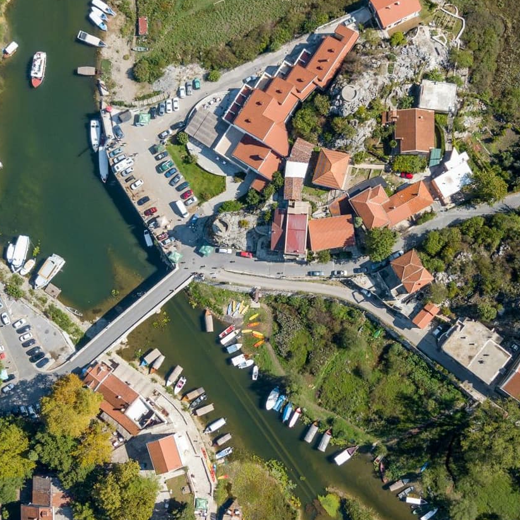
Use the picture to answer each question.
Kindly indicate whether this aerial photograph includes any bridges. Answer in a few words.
Yes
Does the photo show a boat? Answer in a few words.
Yes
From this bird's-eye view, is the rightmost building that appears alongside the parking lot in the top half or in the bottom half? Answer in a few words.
bottom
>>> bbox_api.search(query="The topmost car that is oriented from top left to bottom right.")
[110,122,124,139]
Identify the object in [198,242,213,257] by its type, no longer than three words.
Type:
umbrella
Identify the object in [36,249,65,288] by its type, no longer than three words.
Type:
boat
